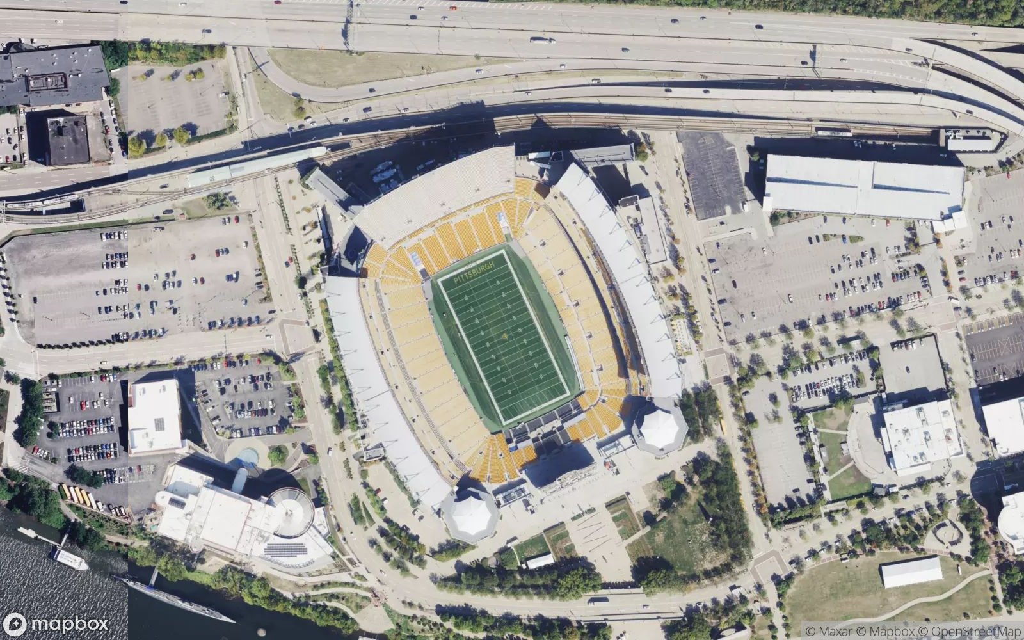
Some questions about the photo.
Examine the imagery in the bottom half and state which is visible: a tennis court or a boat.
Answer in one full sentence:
Visible in the bottom half is a boat.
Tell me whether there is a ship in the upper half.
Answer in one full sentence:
No, no ship can be made out in the upper half.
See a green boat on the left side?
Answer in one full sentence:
No, I can find no green boat on the left side.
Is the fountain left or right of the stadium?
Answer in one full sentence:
Relative to the stadium, the fountain lies to the left.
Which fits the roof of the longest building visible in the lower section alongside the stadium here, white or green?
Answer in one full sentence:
In this view, the roof of the longest building visible in the lower section alongside the stadium is white.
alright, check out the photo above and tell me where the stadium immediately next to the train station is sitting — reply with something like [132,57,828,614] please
[300,145,689,543]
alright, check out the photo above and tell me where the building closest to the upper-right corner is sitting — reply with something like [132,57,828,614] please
[947,139,992,151]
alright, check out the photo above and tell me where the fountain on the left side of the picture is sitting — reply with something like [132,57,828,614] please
[234,445,257,468]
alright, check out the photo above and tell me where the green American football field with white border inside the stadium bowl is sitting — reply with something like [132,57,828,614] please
[422,240,583,433]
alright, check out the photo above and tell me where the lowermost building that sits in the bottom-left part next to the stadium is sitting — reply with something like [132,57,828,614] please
[155,465,334,571]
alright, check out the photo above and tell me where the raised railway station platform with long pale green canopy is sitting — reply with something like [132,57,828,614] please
[86,147,328,209]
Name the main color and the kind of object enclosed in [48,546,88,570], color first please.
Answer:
white boat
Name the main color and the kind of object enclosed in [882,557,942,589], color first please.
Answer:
white tent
